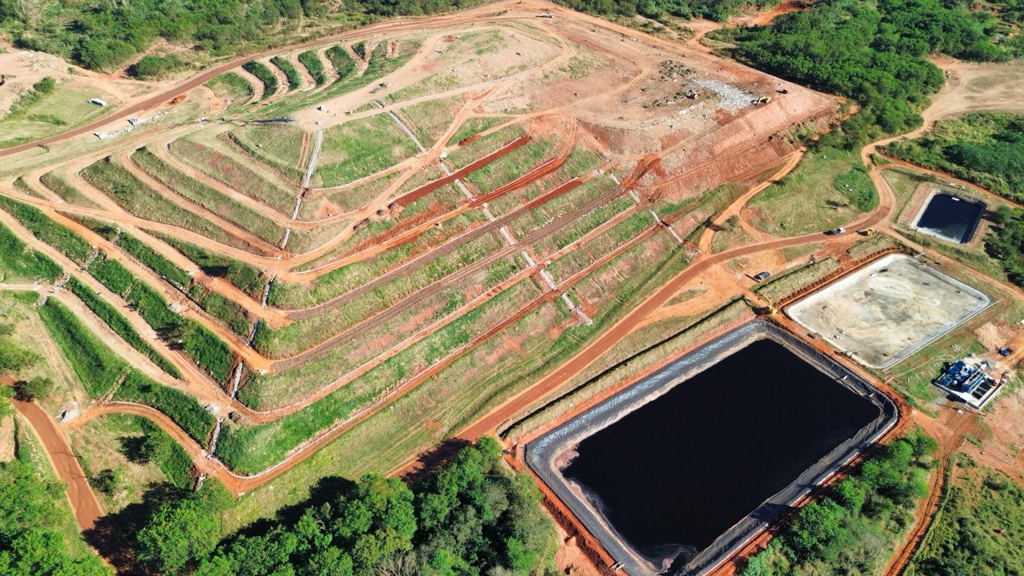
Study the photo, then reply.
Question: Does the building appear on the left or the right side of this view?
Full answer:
The building is on the right side of the image.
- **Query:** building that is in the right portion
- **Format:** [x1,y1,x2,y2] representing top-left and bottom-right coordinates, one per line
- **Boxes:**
[932,360,1010,412]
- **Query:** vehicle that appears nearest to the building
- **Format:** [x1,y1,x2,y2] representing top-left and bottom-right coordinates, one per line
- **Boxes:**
[997,343,1017,356]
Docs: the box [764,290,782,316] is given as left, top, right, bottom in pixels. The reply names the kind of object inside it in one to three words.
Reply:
work vehicle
